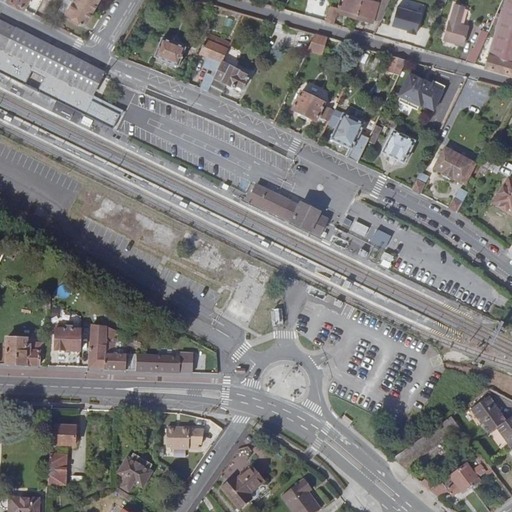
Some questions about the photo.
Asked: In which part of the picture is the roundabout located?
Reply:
bottom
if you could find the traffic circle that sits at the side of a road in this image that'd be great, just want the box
[233,331,337,424]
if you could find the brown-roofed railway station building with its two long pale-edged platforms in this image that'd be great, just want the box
[0,76,474,345]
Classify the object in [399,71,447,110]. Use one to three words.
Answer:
house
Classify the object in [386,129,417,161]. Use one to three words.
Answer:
house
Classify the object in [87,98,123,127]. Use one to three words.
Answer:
shed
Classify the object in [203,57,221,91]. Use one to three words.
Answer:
building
